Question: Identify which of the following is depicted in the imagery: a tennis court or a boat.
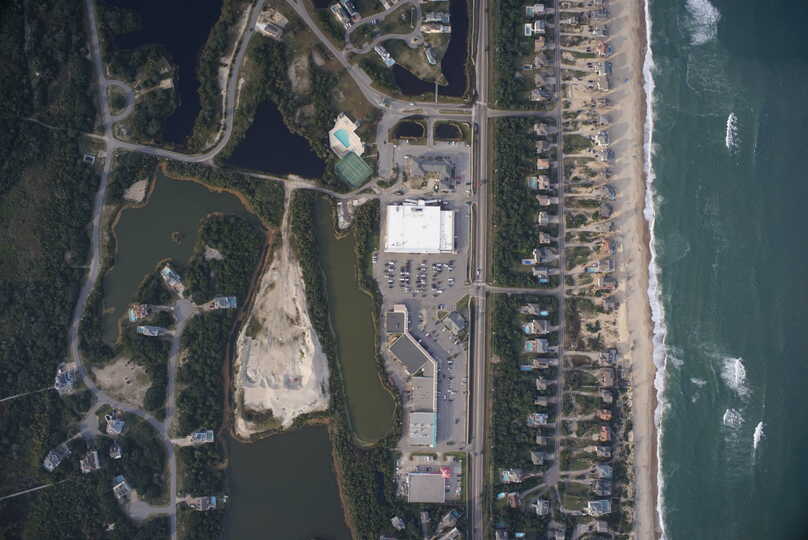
tennis court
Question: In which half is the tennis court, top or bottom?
top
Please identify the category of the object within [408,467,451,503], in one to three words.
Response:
building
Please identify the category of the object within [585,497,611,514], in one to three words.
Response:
house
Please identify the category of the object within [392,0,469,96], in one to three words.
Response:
pond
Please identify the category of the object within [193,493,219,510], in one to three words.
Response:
house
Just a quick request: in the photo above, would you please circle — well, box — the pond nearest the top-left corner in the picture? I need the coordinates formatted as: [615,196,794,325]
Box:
[107,0,223,146]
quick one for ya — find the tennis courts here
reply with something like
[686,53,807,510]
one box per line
[335,152,372,187]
